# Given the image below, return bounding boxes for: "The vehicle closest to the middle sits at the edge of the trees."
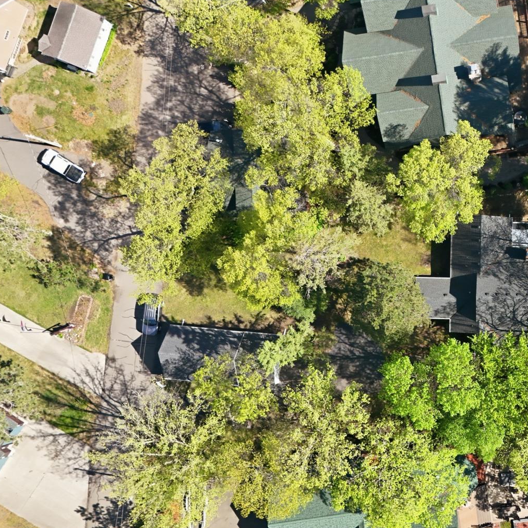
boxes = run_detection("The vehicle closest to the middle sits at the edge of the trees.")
[140,289,163,333]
